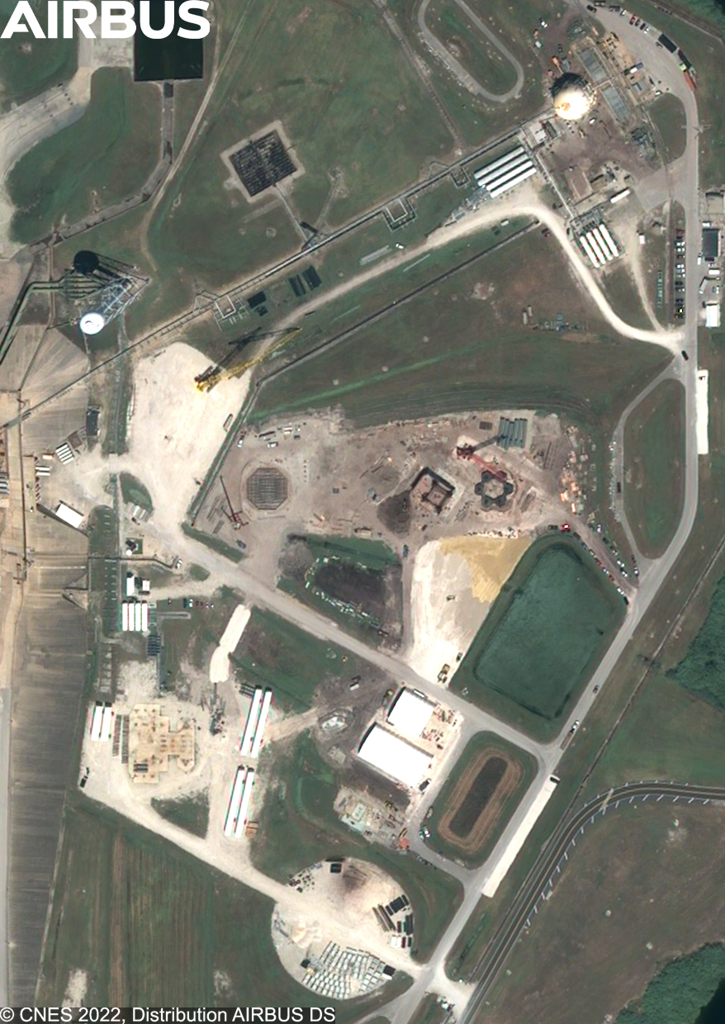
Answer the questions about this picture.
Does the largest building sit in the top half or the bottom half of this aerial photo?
bottom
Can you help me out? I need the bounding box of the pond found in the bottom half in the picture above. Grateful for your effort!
[476,542,610,718]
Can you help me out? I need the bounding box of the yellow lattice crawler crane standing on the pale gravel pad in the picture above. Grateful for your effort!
[189,327,302,398]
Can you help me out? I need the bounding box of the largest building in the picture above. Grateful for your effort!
[359,721,433,787]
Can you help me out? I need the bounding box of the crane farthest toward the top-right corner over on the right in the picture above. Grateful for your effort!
[447,444,506,482]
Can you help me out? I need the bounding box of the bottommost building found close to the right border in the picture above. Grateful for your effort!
[706,303,722,327]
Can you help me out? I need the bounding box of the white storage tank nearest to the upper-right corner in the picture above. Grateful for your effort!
[554,78,598,122]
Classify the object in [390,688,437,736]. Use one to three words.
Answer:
building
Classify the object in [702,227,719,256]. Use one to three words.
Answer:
building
